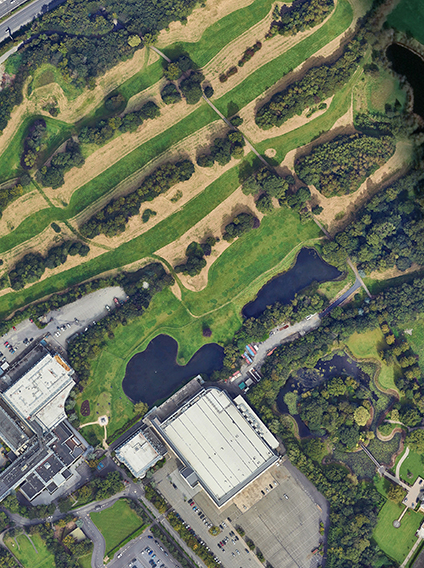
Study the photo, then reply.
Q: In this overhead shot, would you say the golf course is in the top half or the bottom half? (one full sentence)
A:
You can find the golf course in the top half.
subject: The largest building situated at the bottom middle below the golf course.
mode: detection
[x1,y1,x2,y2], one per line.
[143,374,279,510]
